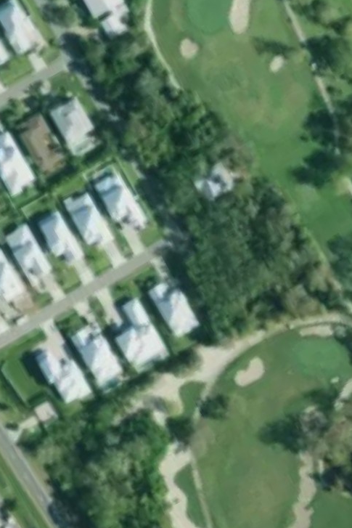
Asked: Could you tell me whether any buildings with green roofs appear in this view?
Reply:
No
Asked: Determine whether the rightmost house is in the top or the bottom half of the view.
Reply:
top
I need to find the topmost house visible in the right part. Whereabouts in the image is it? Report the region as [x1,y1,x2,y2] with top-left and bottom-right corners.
[193,162,235,198]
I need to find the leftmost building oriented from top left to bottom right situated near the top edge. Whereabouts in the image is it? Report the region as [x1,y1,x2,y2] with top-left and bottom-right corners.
[0,0,44,58]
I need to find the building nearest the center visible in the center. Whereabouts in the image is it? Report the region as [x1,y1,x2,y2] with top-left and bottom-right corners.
[149,283,195,338]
